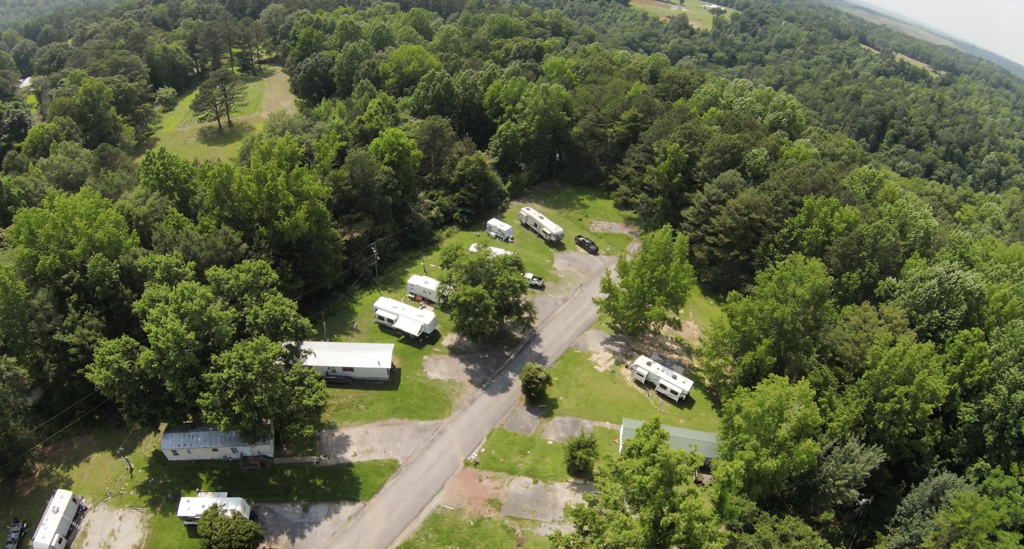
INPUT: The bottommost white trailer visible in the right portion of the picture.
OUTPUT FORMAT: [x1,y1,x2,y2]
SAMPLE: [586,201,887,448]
[624,354,694,408]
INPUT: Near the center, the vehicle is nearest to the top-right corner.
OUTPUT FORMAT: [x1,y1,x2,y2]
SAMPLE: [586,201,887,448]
[574,235,598,255]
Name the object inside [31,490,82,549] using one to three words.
trailer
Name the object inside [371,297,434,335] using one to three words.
trailer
